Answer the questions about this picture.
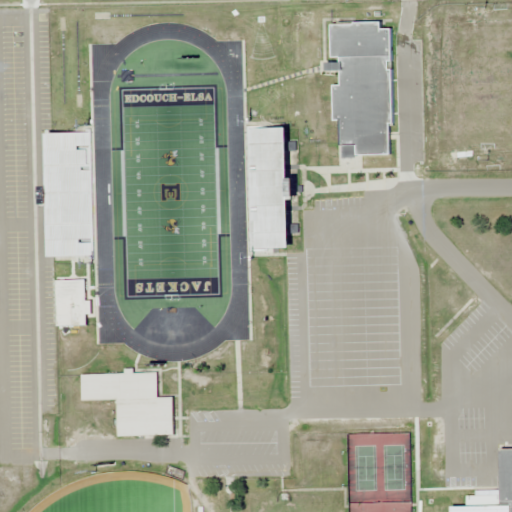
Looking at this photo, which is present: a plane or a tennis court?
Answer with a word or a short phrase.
tennis court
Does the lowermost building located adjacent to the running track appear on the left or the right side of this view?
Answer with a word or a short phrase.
left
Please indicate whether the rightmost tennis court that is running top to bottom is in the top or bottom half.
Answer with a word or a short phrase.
bottom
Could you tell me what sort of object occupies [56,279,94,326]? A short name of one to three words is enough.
building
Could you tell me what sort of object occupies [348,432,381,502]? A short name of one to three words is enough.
tennis court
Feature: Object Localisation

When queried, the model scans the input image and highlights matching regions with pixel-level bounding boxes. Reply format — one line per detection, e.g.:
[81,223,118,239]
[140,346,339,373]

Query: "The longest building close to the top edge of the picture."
[324,21,395,158]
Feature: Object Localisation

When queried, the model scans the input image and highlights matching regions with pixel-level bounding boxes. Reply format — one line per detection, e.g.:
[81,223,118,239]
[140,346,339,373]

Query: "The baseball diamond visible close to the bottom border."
[32,471,192,512]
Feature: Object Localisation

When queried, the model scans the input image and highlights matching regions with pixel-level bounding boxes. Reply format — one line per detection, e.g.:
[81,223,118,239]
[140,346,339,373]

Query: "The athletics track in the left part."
[92,24,250,362]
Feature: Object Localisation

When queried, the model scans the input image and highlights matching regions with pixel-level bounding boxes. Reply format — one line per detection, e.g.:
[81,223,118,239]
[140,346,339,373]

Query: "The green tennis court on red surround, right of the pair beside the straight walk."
[380,432,412,502]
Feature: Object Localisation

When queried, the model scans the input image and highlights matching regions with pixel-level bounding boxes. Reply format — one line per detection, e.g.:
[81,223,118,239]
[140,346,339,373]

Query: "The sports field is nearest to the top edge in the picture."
[110,40,232,345]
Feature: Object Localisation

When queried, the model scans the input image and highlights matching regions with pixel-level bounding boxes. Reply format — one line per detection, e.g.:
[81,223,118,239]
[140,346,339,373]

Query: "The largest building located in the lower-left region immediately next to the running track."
[81,368,177,436]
